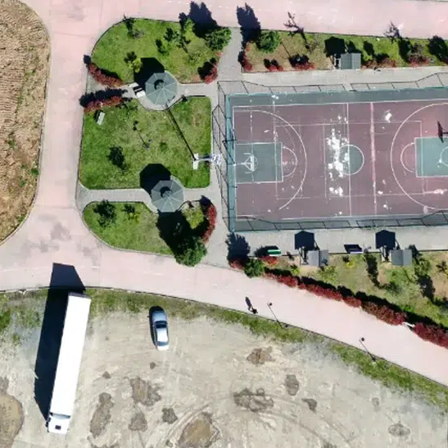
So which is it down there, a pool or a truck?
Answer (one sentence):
This aerial view contains a truck.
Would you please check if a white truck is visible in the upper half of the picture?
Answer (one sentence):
No, no white truck appears in the upper half of the picture.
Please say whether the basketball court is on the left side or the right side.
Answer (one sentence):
It is on the right.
